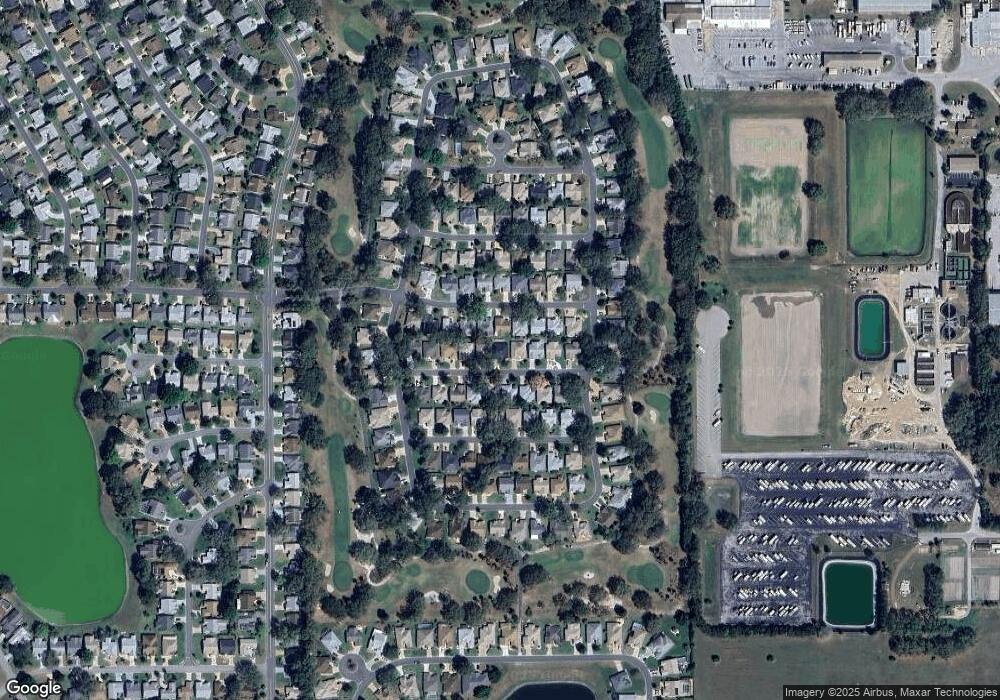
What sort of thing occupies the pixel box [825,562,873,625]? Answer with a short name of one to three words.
pond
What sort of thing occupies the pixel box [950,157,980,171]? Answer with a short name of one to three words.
building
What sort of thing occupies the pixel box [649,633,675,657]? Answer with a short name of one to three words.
house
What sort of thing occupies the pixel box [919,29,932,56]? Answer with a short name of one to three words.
shed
